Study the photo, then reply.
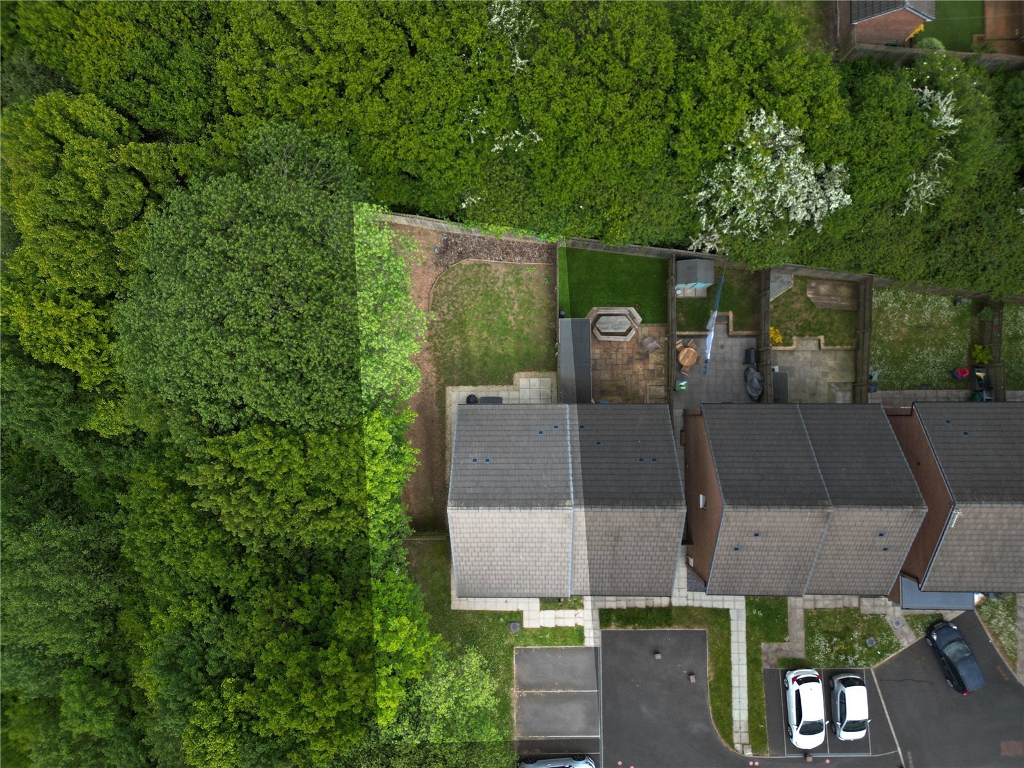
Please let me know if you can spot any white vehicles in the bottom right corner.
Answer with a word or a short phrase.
Yes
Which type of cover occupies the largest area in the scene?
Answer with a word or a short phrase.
trees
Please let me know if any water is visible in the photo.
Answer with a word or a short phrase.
No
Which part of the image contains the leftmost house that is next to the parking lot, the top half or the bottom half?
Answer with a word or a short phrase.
bottom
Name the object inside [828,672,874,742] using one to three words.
car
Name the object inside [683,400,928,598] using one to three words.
house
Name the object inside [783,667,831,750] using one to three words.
car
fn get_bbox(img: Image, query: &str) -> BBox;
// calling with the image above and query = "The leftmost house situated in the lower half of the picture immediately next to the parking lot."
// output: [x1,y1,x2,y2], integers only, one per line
[449,401,686,600]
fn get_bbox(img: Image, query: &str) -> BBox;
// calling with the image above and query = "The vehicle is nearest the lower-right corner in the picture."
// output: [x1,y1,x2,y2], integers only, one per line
[924,618,990,701]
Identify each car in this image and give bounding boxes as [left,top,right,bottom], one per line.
[783,667,831,750]
[828,672,874,742]
[924,618,990,701]
[516,755,595,768]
